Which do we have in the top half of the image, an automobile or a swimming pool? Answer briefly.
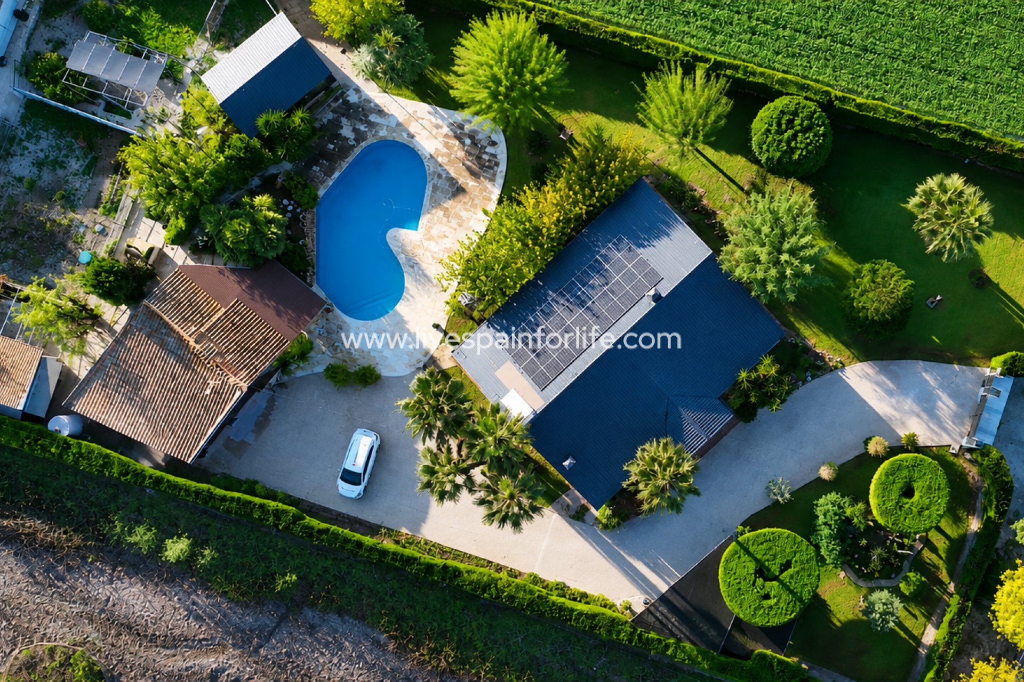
swimming pool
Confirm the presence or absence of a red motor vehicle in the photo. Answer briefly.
No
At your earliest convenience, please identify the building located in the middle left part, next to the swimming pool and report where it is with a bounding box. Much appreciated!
[61,259,332,464]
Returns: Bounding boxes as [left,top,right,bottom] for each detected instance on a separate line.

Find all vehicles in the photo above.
[334,430,380,501]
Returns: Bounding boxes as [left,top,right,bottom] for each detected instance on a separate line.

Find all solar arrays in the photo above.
[504,236,662,394]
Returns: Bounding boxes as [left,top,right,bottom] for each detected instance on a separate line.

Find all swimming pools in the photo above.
[311,135,432,325]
